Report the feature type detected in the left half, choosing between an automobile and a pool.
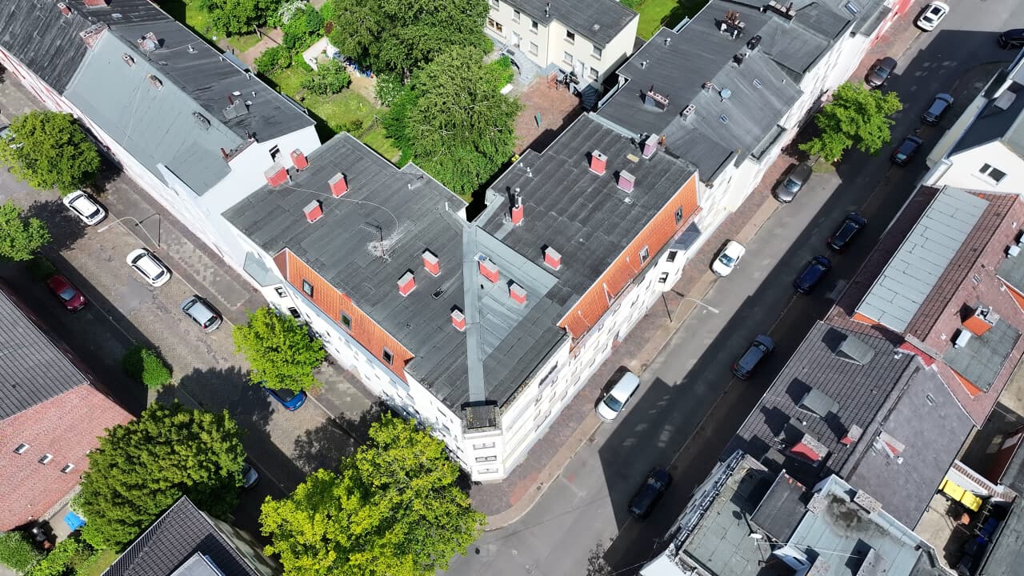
automobile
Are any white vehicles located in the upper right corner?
Yes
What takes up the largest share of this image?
buildings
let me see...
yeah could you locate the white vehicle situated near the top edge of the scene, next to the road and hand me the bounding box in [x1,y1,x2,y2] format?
[914,0,949,36]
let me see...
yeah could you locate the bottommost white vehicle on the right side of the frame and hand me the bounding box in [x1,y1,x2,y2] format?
[594,366,643,425]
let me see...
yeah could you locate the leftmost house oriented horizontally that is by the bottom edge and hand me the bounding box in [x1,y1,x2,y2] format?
[87,494,268,576]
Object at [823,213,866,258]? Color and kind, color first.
black car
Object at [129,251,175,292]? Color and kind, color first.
white car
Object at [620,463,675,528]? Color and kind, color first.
black car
